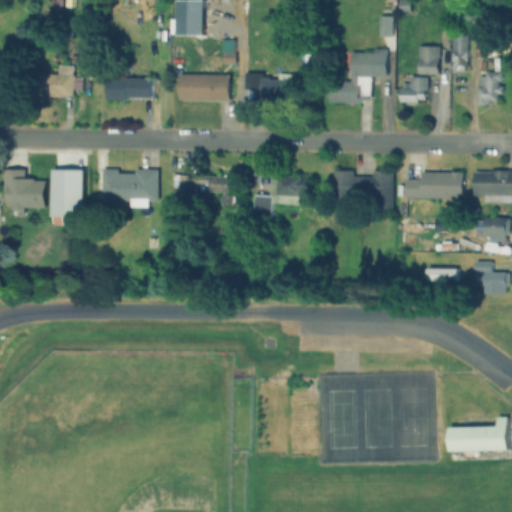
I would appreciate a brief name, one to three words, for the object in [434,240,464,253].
vehicle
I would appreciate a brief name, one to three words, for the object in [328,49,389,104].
house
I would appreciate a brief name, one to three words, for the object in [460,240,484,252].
vehicle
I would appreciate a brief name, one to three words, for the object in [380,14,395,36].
building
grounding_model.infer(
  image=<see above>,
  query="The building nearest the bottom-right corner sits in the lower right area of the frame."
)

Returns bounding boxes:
[446,416,508,452]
